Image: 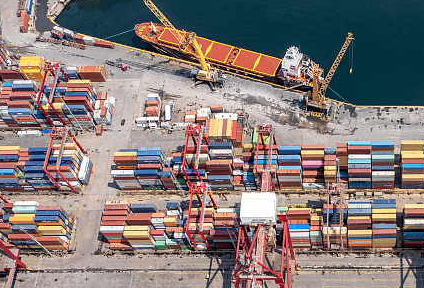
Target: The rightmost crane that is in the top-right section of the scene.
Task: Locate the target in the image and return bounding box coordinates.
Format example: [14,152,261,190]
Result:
[301,32,352,119]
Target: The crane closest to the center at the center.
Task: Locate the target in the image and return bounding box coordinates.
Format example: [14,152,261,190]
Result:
[180,127,208,187]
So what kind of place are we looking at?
port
